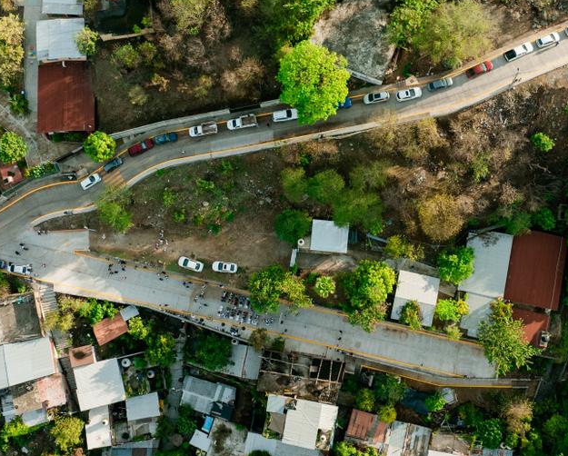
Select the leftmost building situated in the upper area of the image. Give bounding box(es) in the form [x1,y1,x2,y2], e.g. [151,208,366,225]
[0,164,26,184]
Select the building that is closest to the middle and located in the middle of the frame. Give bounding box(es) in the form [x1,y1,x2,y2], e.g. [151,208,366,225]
[311,220,348,252]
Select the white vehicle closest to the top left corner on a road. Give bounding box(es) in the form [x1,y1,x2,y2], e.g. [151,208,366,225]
[77,172,102,192]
